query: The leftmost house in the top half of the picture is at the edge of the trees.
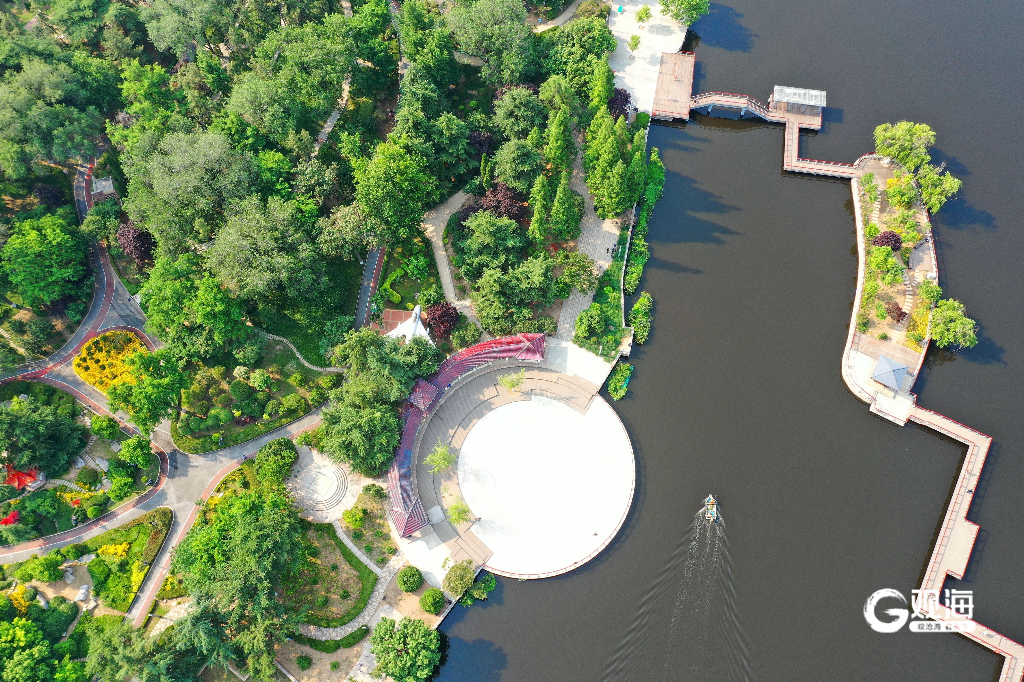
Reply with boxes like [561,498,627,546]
[90,175,122,210]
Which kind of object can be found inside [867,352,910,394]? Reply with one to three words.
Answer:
building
